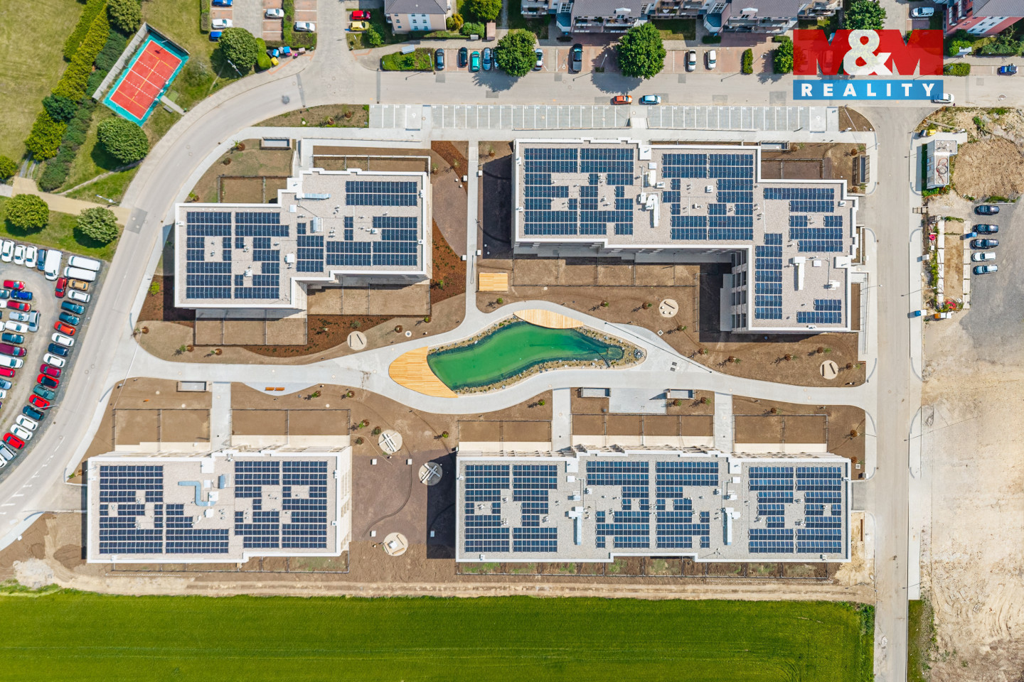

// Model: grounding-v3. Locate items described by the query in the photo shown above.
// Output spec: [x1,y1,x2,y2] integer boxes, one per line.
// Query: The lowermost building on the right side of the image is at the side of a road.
[456,442,851,562]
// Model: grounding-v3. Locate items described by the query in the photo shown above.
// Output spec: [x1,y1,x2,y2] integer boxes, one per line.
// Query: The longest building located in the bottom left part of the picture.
[87,443,353,563]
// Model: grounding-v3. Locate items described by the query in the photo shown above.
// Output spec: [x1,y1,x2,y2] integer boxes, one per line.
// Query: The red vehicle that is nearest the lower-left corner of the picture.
[3,432,26,450]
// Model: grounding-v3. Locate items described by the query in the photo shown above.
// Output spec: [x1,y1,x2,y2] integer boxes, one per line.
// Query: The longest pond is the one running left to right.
[428,314,647,398]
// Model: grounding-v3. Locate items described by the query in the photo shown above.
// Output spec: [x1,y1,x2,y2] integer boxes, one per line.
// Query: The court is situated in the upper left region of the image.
[91,23,189,125]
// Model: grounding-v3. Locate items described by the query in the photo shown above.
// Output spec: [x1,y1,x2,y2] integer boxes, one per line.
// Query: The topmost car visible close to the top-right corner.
[910,6,934,18]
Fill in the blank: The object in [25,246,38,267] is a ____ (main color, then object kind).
white vehicle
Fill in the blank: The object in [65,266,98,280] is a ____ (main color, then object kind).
white vehicle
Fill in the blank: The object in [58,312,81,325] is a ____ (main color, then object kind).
blue vehicle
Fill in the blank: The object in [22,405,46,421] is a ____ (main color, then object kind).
blue car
